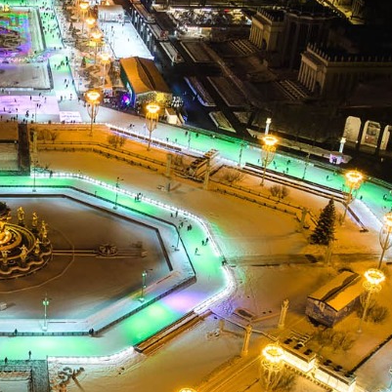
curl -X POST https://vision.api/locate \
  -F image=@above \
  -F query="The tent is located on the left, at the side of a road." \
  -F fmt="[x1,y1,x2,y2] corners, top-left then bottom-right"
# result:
[95,1,127,22]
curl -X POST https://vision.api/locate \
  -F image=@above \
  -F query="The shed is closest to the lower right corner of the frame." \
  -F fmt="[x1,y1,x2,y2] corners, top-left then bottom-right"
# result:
[306,278,365,325]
